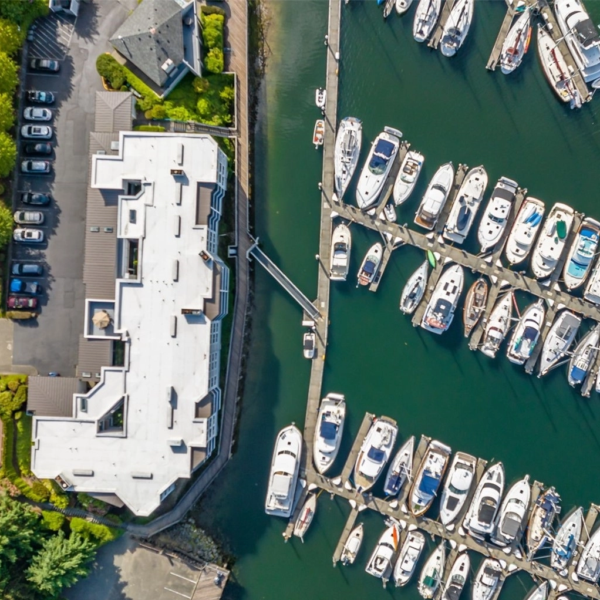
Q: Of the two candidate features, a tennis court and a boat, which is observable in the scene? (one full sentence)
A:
This aerial view contains a boat.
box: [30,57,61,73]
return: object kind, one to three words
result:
car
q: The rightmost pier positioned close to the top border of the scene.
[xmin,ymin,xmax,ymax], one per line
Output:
[541,1,592,104]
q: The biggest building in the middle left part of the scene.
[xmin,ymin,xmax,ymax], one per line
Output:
[31,131,230,515]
